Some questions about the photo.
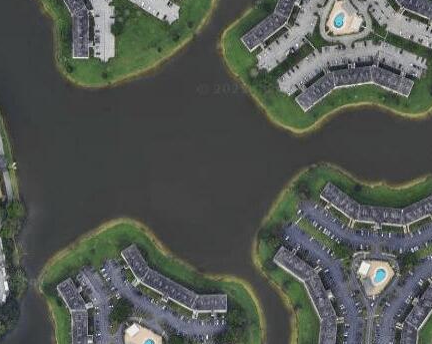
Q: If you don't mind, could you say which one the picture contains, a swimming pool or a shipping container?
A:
swimming pool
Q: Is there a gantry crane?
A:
No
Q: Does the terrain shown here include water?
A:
Yes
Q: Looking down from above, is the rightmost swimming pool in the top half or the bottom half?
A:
bottom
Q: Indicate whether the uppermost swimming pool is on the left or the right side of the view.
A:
right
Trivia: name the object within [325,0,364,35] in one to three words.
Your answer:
swimming pool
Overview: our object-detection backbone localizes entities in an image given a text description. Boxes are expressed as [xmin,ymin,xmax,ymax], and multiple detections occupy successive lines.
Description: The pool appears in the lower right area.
[359,261,395,294]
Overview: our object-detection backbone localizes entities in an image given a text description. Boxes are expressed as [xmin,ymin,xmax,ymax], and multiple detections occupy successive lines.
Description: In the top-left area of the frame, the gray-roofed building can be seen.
[63,0,94,61]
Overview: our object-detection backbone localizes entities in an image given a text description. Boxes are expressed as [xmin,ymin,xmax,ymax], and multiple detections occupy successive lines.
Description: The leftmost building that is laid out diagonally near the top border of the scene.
[242,0,298,54]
